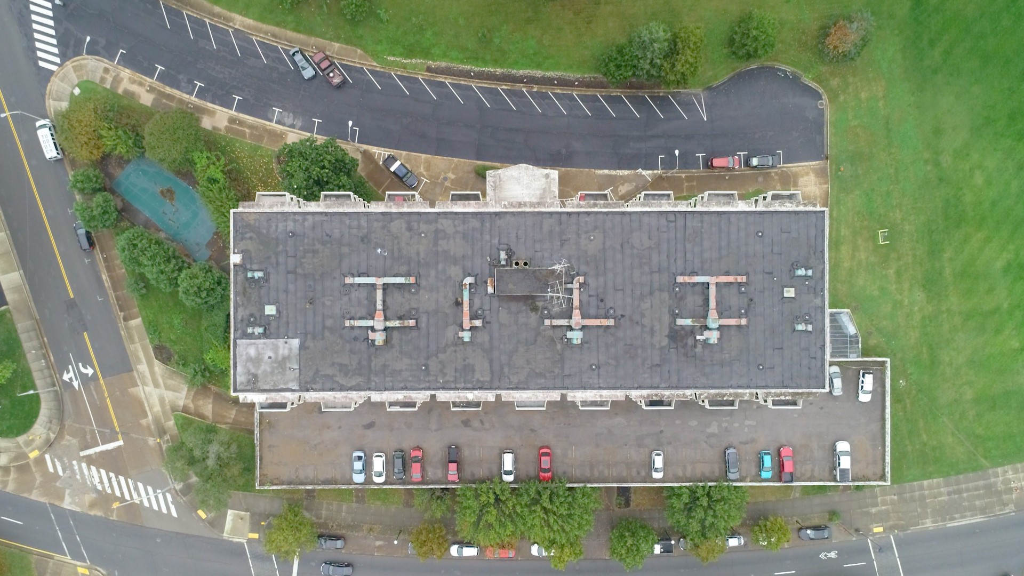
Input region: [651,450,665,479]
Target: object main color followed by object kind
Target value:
white car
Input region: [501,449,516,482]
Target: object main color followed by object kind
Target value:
white car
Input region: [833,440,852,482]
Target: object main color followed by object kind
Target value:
white vehicle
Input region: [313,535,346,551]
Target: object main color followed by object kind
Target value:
gray car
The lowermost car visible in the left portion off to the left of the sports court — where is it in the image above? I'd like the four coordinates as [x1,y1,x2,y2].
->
[74,221,95,253]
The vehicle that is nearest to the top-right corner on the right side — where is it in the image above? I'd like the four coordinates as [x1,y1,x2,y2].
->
[746,153,780,168]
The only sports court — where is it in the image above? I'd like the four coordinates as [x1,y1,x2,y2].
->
[112,156,216,261]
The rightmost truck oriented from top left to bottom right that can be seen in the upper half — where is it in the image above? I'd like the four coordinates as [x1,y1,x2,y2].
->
[382,152,418,189]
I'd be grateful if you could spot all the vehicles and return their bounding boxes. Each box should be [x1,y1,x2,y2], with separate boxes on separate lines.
[501,449,516,482]
[856,368,874,402]
[798,524,831,541]
[651,450,665,479]
[531,542,560,558]
[643,538,675,553]
[708,154,739,169]
[351,450,366,483]
[833,440,852,482]
[290,47,316,82]
[746,153,780,168]
[446,445,460,480]
[407,540,436,555]
[391,449,406,481]
[35,120,62,162]
[382,152,418,189]
[450,542,479,558]
[371,452,386,483]
[758,450,774,479]
[724,446,742,480]
[537,446,553,481]
[74,221,95,253]
[779,445,796,484]
[828,364,843,396]
[313,51,345,90]
[313,535,346,551]
[408,446,424,482]
[321,560,354,576]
